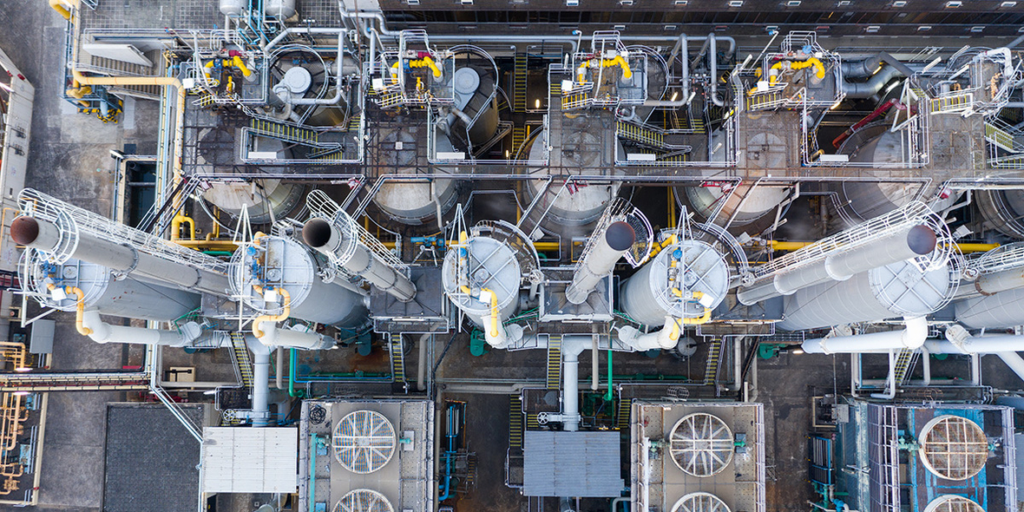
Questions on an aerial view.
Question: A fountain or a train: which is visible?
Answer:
train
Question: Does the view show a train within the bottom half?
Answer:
No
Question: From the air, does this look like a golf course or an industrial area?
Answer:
industrial area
